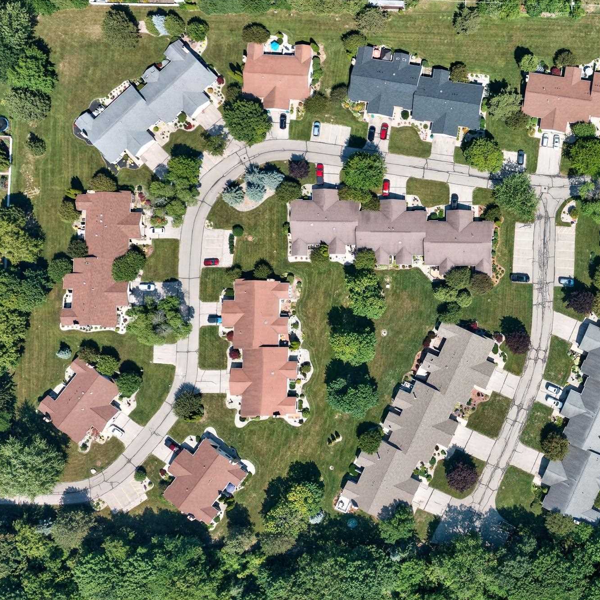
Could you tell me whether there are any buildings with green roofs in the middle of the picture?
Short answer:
No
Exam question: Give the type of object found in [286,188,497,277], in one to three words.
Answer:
house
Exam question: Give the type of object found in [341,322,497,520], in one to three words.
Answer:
house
